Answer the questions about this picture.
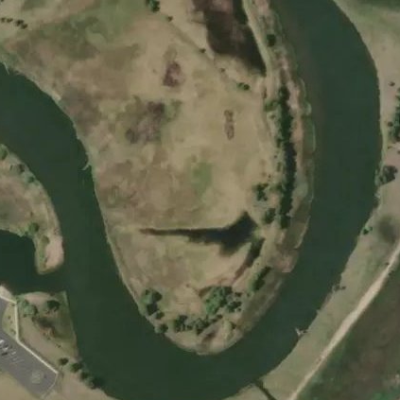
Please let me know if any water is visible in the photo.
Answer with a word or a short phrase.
Yes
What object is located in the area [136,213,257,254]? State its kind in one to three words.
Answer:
pond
